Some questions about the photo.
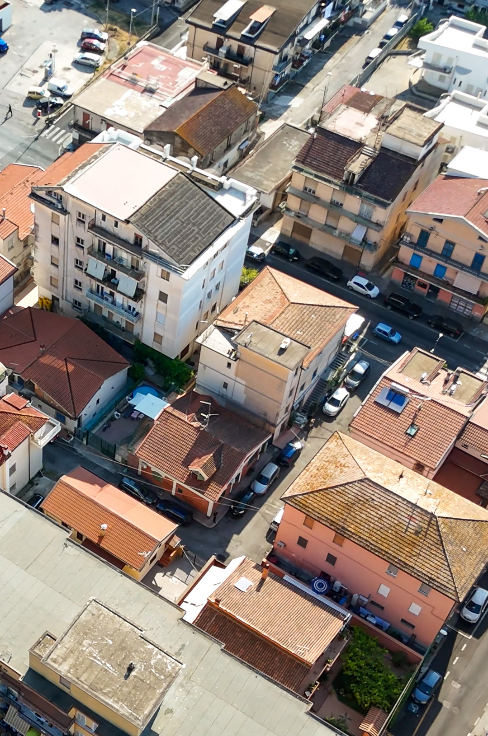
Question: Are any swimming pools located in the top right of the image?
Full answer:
No, no swimming pool is visible in the top right of the image.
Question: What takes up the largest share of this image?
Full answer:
The largest share of the image is taken up by buildings.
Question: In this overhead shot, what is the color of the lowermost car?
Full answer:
The lowermost car looks blue in the image.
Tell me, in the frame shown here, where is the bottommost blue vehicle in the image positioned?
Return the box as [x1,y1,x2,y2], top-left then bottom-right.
[409,663,445,708]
